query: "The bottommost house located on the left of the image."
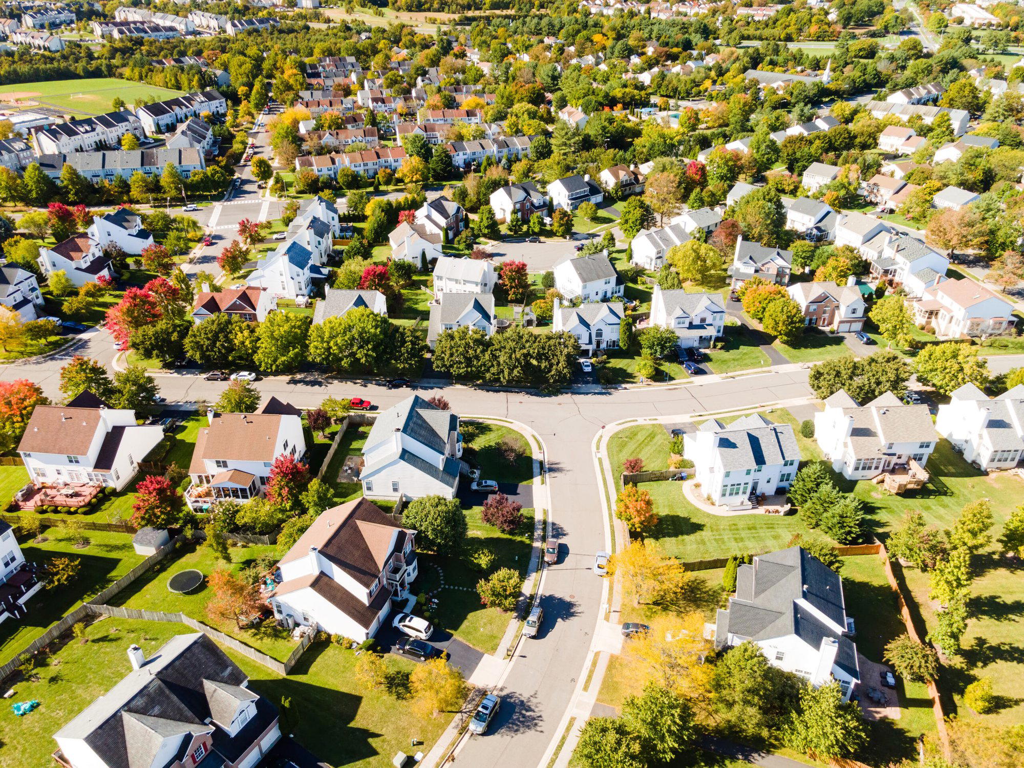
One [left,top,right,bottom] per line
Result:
[42,634,289,768]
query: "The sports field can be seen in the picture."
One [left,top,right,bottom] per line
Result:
[0,80,186,124]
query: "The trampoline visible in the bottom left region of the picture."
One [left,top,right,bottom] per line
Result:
[168,571,202,598]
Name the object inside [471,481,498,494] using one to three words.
vehicle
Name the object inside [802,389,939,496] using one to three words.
house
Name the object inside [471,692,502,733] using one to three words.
car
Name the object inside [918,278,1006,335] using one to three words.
house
